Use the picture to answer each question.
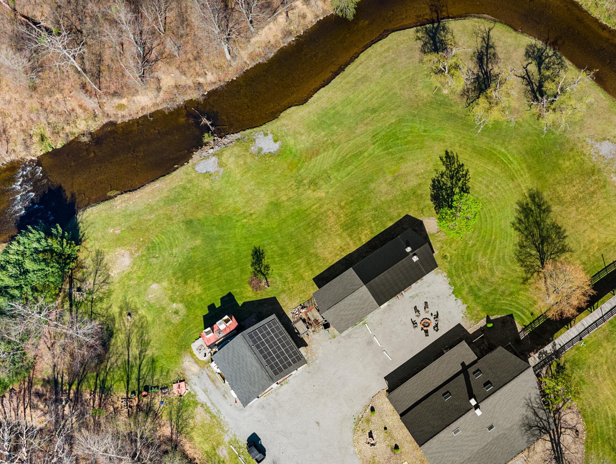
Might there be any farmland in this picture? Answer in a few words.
No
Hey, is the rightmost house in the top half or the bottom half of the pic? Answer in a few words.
bottom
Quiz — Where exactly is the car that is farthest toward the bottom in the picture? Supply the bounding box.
[245,442,264,464]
